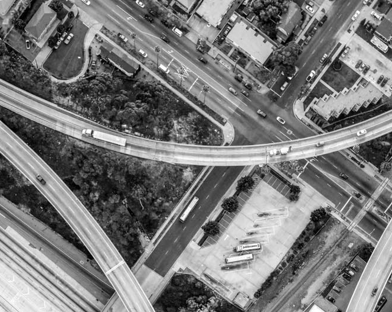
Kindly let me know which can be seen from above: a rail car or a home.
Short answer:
home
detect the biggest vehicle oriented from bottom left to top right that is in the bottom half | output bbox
[180,194,201,221]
